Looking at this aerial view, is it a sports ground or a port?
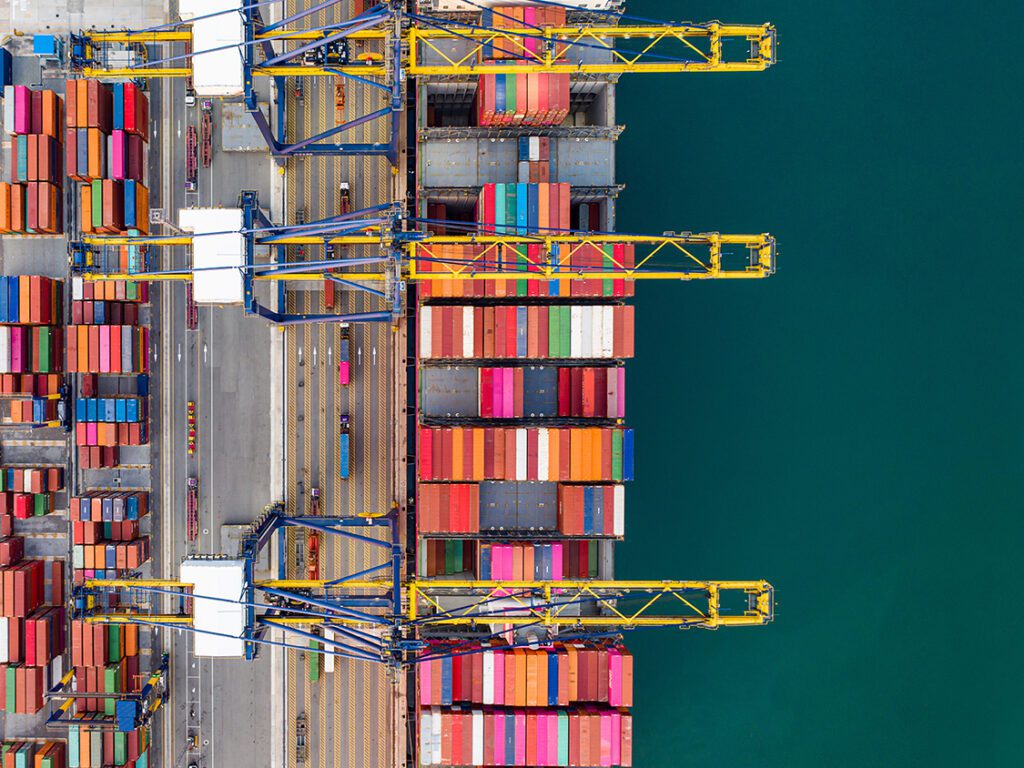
port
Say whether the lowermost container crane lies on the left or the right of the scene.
left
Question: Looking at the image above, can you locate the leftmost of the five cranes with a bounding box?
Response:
[0,385,69,429]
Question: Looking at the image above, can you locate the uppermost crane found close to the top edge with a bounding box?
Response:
[65,0,781,176]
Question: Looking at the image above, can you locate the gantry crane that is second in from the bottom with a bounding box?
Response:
[65,501,781,671]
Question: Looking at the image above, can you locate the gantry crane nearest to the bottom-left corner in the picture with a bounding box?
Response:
[41,660,165,732]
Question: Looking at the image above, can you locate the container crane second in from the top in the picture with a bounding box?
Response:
[65,192,781,339]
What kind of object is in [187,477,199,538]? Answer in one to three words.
vehicle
